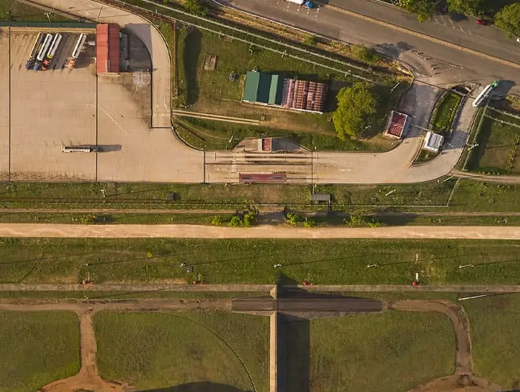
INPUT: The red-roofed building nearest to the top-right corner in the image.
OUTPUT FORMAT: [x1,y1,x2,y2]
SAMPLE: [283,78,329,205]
[382,112,408,141]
